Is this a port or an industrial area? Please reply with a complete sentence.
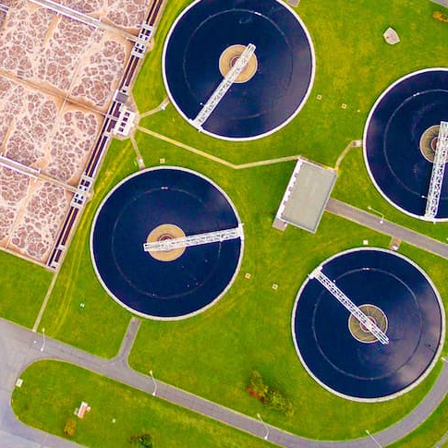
The area seen from above is an industrial area.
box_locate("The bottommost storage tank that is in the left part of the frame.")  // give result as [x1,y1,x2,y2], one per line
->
[89,165,244,320]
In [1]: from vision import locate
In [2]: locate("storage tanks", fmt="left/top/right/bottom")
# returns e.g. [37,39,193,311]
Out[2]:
[290,247,446,402]
[361,69,448,222]
[89,165,244,320]
[161,0,316,141]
